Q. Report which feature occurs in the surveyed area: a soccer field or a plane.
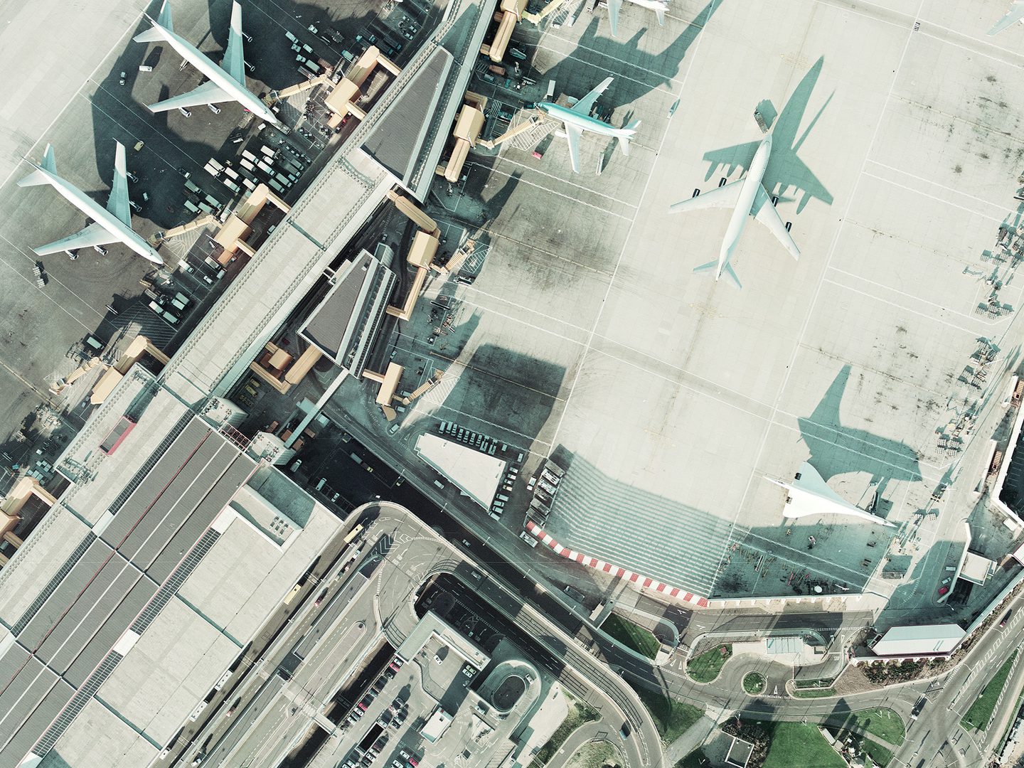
plane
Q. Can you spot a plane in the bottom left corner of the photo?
No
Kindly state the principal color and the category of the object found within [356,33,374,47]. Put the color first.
black vehicle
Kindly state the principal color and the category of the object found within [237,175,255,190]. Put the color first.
white vehicle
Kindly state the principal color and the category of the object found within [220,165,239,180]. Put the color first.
white vehicle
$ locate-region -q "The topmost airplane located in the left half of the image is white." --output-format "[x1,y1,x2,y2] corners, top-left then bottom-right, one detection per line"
[137,0,278,124]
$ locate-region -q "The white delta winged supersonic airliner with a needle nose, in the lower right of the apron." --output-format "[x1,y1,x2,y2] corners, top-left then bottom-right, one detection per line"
[770,457,896,527]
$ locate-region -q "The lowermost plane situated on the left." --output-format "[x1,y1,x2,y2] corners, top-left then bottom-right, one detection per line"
[20,139,162,265]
